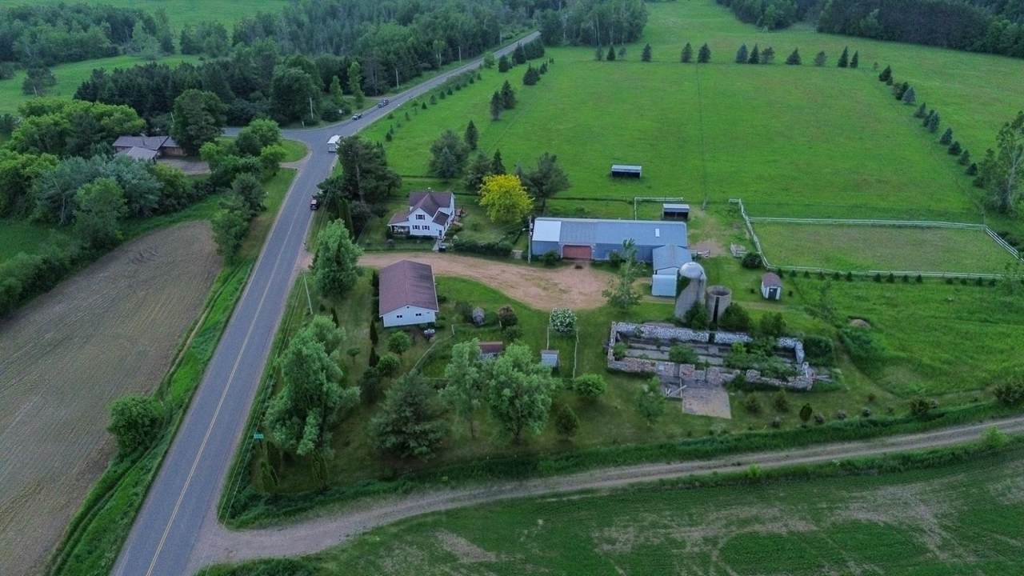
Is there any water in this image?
No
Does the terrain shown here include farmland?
Yes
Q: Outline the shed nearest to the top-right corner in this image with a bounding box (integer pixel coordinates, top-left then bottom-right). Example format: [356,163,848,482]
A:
[757,272,785,300]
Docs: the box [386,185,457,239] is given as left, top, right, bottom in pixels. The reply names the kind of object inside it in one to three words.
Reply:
house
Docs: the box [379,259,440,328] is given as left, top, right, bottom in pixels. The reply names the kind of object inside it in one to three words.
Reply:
building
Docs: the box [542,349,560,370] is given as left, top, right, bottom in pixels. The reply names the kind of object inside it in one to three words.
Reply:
shed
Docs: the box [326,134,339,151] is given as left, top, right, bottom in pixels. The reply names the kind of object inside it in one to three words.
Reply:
vehicle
